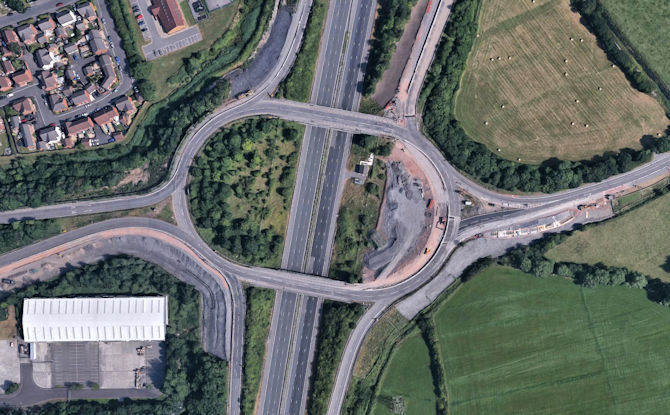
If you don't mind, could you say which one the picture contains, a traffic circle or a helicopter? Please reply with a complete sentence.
The one in the frame is a traffic circle.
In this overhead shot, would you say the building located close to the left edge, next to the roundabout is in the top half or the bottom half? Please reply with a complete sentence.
You can find the building located close to the left edge, next to the roundabout in the bottom half.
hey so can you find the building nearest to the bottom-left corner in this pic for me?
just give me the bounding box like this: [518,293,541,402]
[22,296,170,343]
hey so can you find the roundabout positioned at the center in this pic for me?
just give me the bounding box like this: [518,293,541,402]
[171,99,461,300]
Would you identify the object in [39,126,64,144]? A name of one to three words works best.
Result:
house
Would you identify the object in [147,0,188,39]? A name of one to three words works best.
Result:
building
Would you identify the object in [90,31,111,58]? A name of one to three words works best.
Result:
house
